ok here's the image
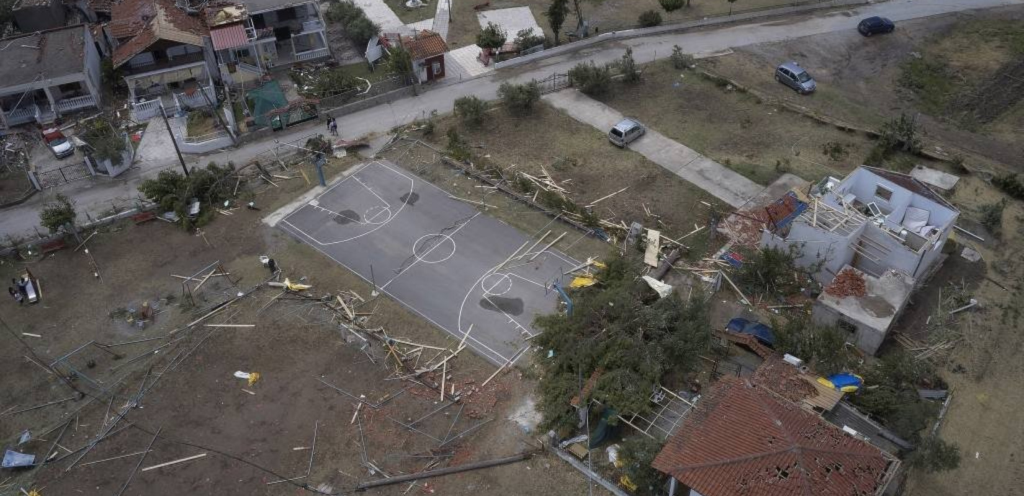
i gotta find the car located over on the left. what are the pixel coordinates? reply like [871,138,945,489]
[41,131,69,159]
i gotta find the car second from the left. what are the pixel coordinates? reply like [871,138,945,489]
[608,121,648,147]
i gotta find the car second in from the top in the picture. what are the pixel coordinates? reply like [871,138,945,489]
[777,65,815,93]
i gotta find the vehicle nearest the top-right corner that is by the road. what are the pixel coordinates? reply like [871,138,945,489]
[858,19,895,36]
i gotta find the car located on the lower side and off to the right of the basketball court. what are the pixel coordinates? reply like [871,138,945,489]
[727,318,783,350]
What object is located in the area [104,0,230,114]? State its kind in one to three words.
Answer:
house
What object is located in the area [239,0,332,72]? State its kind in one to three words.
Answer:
house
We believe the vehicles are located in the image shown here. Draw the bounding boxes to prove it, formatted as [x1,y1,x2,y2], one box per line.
[608,121,648,147]
[41,131,69,159]
[727,318,783,350]
[858,19,895,36]
[777,65,815,93]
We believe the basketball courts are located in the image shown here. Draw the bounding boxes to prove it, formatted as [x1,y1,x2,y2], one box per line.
[274,155,616,378]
